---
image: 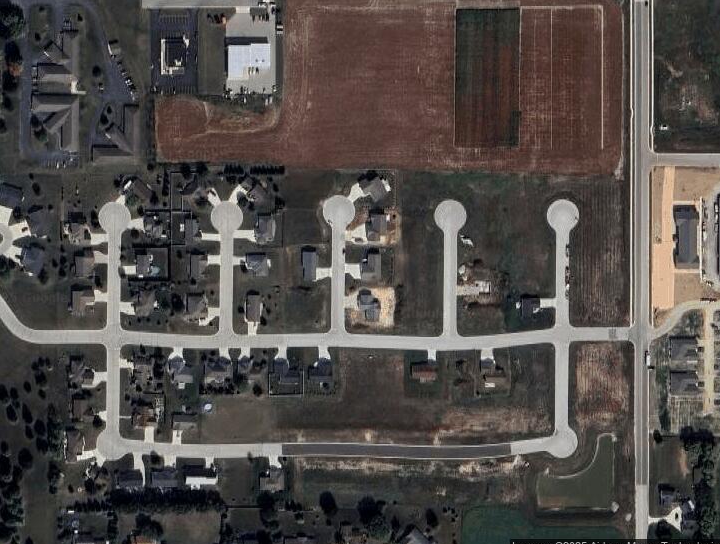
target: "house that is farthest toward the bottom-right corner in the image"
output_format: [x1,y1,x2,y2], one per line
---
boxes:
[678,500,699,532]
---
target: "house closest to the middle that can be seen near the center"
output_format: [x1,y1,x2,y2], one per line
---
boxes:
[360,252,380,284]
